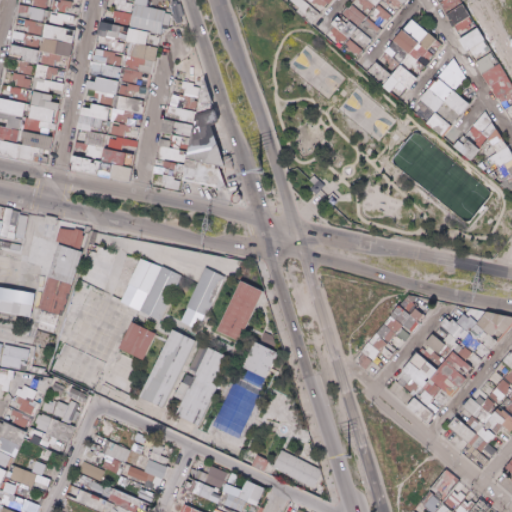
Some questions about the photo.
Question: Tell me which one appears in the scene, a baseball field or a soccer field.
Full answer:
The one in the frame is a soccer field.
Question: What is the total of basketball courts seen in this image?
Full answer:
The number of basketball courts here is 2.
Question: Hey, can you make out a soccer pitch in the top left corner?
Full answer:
No, no soccer pitch is visible in the top left corner.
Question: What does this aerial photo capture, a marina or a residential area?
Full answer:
This image shows a residential area.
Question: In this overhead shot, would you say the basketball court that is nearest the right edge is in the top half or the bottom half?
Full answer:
The basketball court that is nearest the right edge sits in the top half of the picture.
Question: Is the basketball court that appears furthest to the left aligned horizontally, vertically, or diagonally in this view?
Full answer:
The basketball court that appears furthest to the left has been laid out diagonally relative to the frame.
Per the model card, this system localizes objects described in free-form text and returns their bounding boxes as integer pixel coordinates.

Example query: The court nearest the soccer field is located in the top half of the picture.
[340,88,397,140]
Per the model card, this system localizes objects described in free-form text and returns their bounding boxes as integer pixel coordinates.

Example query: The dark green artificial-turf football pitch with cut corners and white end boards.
[396,136,487,217]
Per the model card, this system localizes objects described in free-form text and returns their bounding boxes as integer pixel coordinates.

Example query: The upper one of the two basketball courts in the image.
[290,46,346,98]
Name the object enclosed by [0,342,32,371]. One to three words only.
house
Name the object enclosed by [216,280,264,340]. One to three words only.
building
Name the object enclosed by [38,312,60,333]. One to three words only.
house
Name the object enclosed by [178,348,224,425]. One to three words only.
building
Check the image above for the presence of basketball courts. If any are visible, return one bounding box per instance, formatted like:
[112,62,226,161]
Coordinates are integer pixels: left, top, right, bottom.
[290,46,346,98]
[340,88,397,140]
